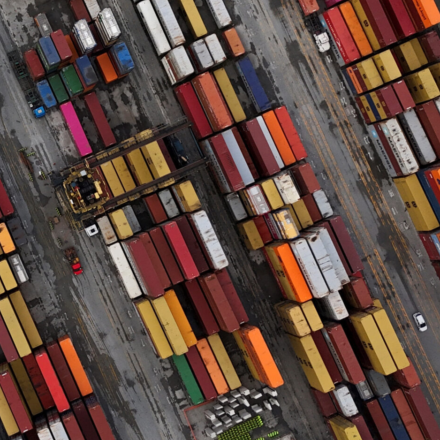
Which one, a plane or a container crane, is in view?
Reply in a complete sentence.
The image shows a container crane.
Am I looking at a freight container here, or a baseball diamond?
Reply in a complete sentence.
Of the two, only a freight container appears.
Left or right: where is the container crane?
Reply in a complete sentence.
The container crane is on the left side of the image.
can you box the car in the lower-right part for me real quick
[413,312,427,332]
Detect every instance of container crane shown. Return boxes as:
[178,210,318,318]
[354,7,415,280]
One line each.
[43,115,209,226]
